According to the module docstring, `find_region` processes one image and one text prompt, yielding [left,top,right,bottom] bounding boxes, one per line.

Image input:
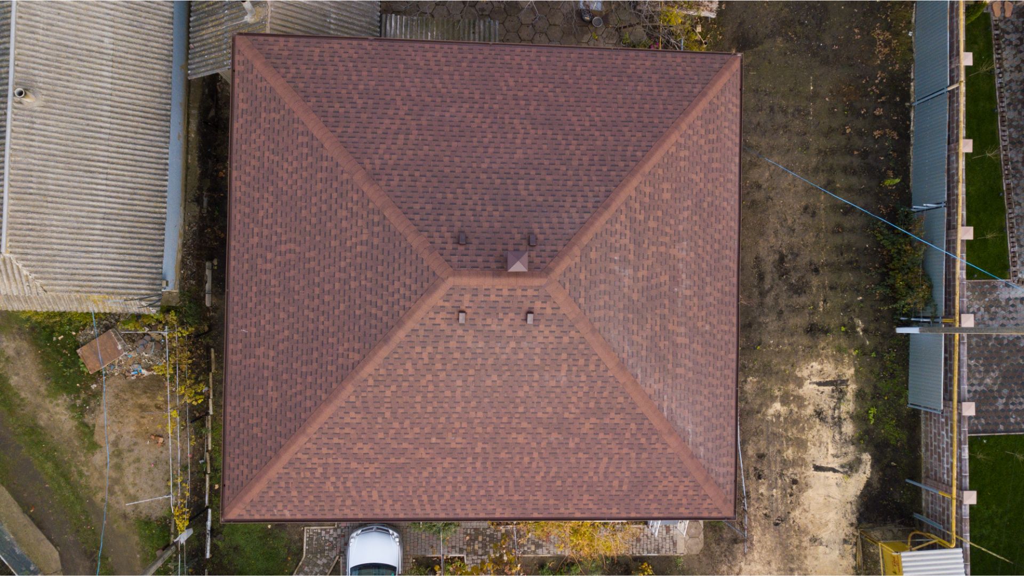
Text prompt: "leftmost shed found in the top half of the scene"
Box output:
[0,0,190,314]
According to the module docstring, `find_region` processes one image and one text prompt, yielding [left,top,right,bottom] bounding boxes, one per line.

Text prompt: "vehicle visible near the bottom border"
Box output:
[340,523,411,576]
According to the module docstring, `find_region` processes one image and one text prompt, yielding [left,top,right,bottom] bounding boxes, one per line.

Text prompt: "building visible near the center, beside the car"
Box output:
[219,33,743,537]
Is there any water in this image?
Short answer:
No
